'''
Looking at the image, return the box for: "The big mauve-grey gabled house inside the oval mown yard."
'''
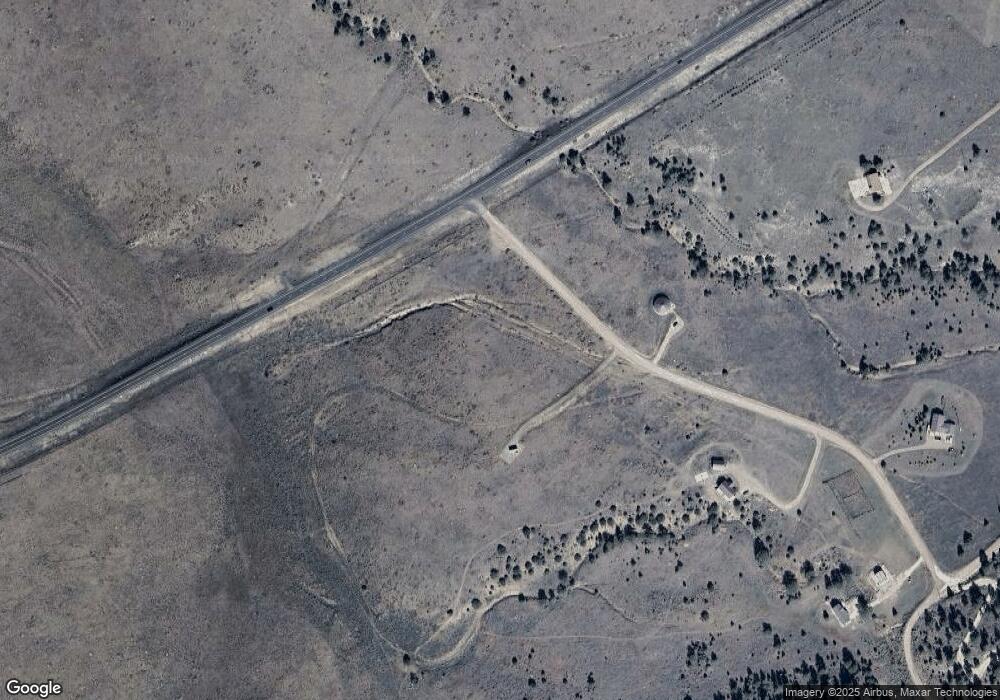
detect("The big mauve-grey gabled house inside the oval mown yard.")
[932,413,956,433]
